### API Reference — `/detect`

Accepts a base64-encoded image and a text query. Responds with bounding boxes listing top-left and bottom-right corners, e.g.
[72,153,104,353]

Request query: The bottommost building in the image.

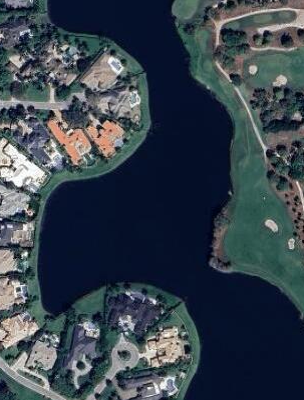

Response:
[116,372,166,400]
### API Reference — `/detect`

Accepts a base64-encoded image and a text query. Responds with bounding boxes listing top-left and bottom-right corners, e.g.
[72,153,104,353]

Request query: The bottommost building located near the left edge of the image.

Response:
[14,331,65,373]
